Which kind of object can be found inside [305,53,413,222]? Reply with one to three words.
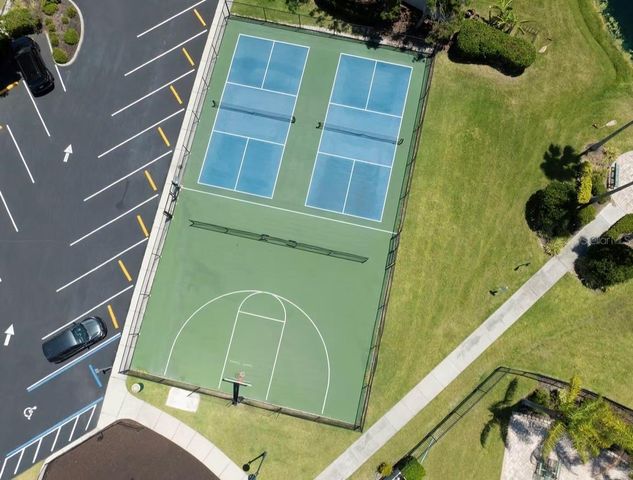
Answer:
sports court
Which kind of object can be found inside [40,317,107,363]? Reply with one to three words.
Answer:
car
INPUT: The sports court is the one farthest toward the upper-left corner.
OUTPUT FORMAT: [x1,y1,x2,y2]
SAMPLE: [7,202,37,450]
[197,33,310,199]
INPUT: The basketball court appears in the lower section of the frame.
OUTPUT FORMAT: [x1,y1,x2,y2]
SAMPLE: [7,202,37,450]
[130,187,397,425]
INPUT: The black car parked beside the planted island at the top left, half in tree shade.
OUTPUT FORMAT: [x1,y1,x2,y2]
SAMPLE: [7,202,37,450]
[12,36,55,98]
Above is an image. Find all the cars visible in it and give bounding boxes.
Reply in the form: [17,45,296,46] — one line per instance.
[40,317,107,363]
[12,36,55,98]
